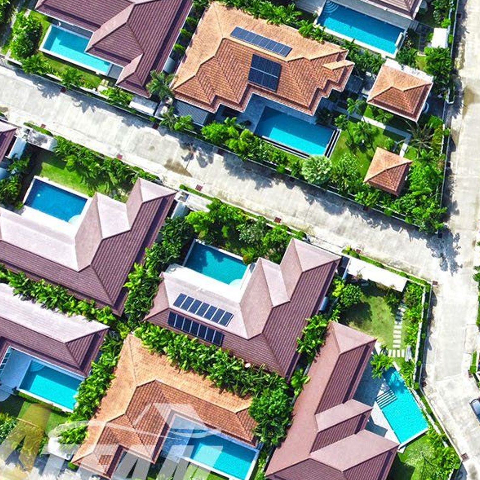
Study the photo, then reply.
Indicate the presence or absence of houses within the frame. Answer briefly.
Yes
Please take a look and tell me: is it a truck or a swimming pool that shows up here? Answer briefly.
swimming pool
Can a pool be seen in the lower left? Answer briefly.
Yes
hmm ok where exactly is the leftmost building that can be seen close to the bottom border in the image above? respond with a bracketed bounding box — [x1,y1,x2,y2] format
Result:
[72,330,276,480]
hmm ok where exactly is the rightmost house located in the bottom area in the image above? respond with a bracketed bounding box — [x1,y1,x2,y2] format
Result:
[265,320,401,480]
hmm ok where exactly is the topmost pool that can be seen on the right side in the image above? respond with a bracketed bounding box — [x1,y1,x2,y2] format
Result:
[313,0,410,59]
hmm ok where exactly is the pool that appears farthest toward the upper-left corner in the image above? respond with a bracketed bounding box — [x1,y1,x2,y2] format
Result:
[38,21,115,79]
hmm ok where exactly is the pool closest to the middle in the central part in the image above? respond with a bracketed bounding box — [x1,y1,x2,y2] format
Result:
[180,238,253,288]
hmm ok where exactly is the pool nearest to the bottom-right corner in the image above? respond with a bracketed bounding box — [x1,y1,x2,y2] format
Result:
[377,363,426,447]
